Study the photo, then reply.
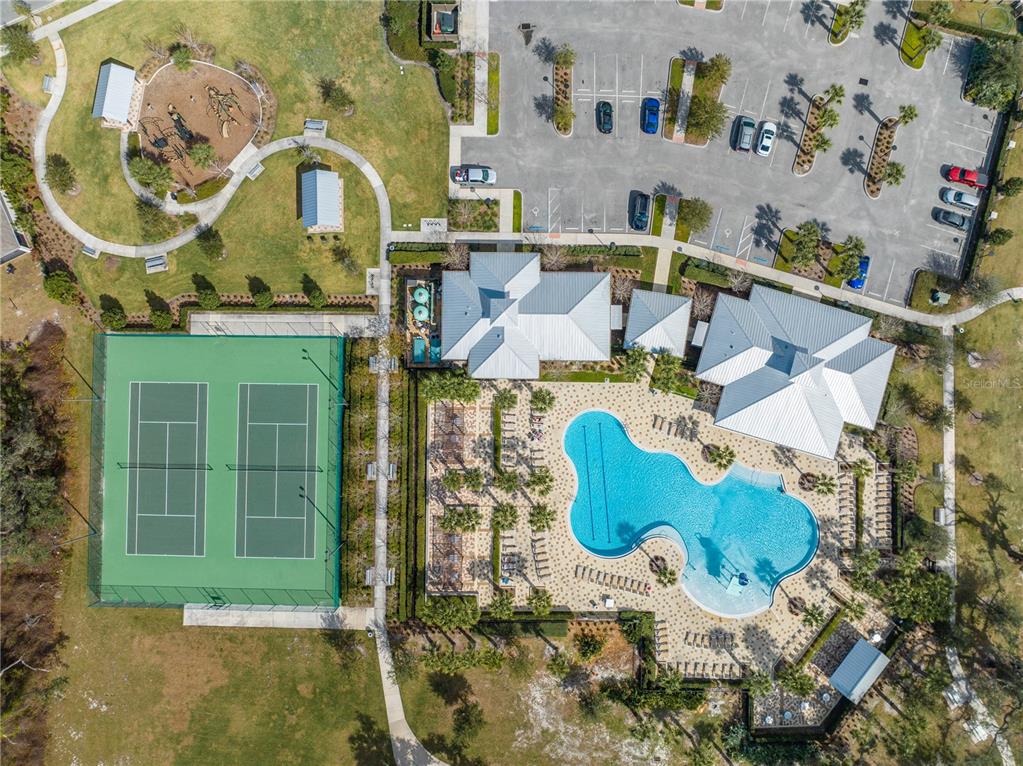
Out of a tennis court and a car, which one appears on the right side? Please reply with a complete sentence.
What appears on the right side is a car.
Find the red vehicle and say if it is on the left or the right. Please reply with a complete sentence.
The red vehicle is on the right side of the image.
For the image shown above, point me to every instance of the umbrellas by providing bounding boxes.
[414,288,430,305]
[414,306,430,323]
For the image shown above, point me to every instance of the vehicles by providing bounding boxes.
[452,167,497,186]
[642,99,659,135]
[944,167,989,188]
[734,115,755,155]
[931,209,969,231]
[846,256,869,291]
[596,100,613,137]
[632,193,650,231]
[941,188,981,209]
[756,122,776,159]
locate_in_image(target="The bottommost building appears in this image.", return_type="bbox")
[822,634,889,702]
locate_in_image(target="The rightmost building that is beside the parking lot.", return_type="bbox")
[694,285,897,458]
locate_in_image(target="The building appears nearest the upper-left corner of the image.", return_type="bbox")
[92,62,144,128]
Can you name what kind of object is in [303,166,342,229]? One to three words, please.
building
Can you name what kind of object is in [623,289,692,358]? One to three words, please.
building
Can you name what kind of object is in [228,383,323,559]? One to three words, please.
tennis court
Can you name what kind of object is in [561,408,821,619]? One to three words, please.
swimming pool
